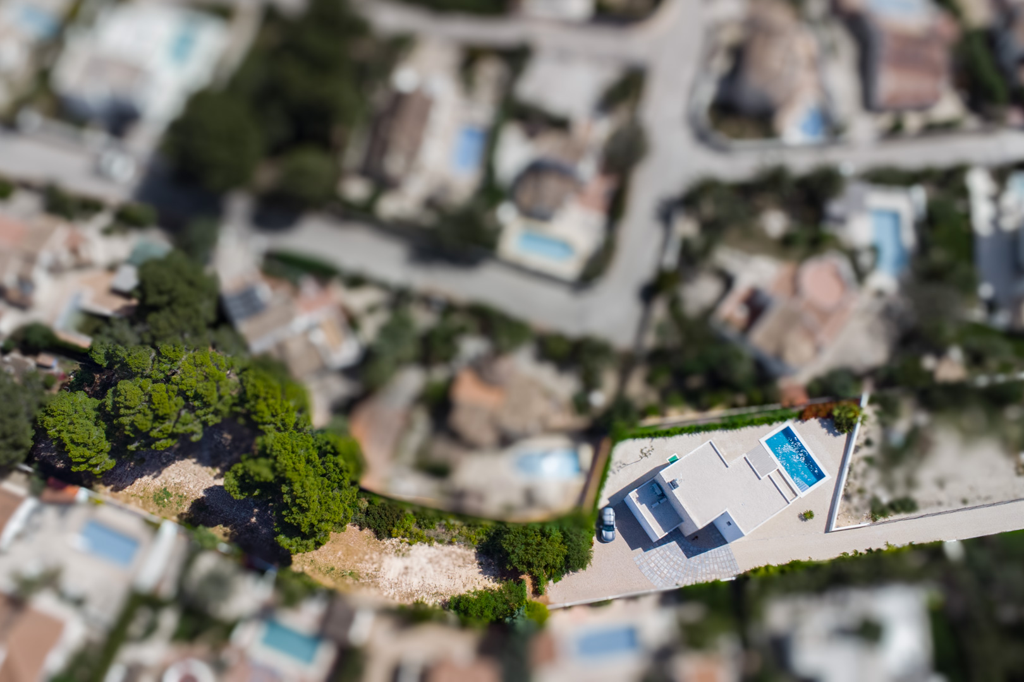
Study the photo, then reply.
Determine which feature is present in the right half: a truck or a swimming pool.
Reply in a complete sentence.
What appears in the right half is a swimming pool.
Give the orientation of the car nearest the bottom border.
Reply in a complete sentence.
In this picture, the car nearest the bottom border lies up and down.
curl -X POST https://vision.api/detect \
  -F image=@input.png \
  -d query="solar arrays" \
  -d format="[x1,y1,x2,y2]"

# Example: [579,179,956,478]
[228,279,271,320]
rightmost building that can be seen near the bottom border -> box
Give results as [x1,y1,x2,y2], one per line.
[765,589,934,682]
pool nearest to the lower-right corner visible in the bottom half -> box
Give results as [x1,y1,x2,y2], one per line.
[757,420,834,501]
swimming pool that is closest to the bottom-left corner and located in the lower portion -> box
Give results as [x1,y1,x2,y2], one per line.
[74,513,145,571]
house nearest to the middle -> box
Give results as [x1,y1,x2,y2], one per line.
[452,357,597,450]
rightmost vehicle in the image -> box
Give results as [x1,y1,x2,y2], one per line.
[598,505,618,544]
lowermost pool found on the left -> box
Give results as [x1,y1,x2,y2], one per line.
[256,612,326,672]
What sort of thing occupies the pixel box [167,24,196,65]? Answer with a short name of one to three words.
swimming pool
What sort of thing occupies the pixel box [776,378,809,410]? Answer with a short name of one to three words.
shed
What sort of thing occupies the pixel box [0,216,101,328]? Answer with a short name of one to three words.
house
